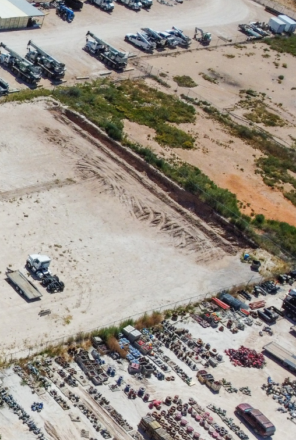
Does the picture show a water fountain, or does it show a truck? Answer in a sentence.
Of the two, only a truck appears.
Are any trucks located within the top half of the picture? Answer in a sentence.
Yes, the scene does show a truck within the top half of the picture.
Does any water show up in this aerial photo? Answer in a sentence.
No, water can't be seen anywhere here.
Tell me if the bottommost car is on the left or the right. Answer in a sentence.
The bottommost car sits on the right side.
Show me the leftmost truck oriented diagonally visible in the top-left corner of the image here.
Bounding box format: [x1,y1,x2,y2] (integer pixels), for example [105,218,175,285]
[0,43,47,86]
